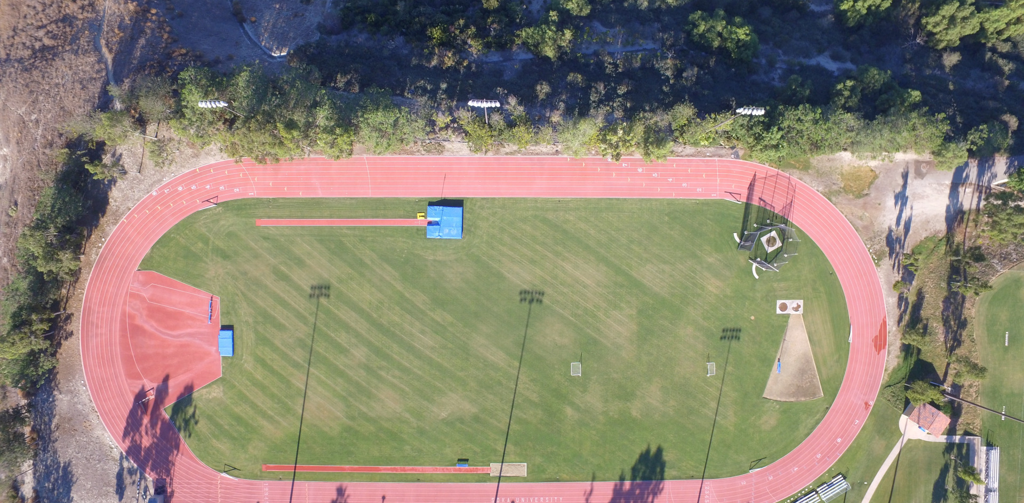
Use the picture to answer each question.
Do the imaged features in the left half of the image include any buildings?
No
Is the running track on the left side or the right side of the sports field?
to the left of it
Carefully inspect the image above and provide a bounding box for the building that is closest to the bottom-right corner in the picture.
[908,402,951,438]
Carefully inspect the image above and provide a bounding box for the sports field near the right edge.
[976,269,1024,503]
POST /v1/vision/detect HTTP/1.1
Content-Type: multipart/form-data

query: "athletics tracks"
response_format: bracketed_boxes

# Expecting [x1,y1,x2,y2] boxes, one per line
[80,156,888,503]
